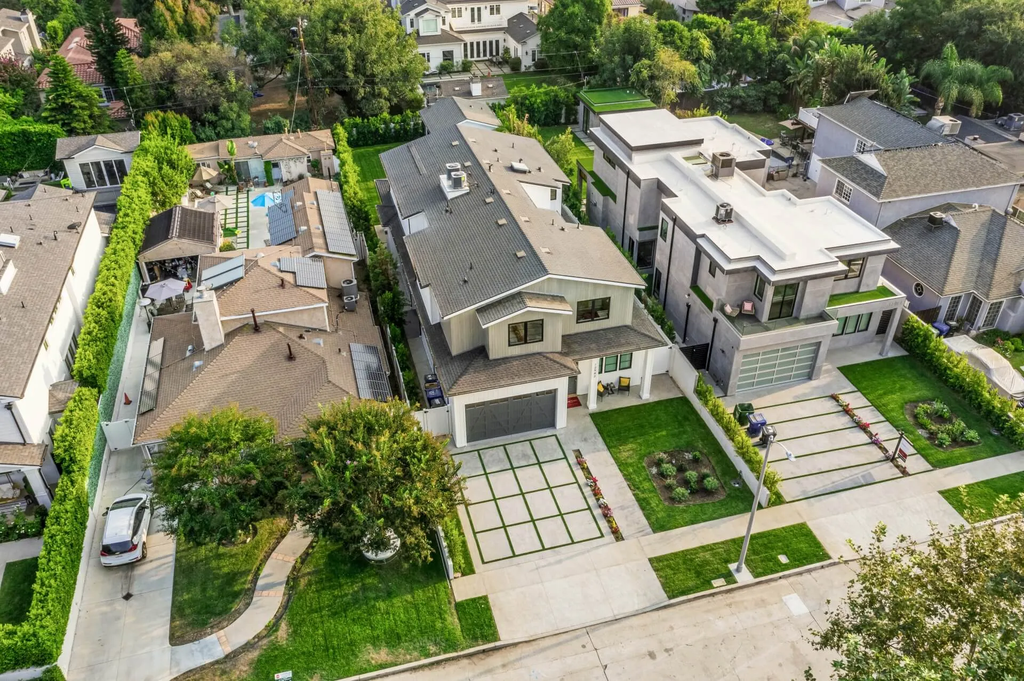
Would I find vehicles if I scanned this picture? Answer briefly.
Yes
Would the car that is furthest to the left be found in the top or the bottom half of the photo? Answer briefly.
bottom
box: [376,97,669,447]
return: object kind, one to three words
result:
house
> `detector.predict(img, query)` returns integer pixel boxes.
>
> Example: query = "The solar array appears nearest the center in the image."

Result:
[339,335,384,385]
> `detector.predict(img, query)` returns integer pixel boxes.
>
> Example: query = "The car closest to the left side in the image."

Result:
[97,485,156,564]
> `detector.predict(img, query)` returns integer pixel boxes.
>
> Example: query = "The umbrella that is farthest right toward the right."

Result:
[777,123,800,154]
